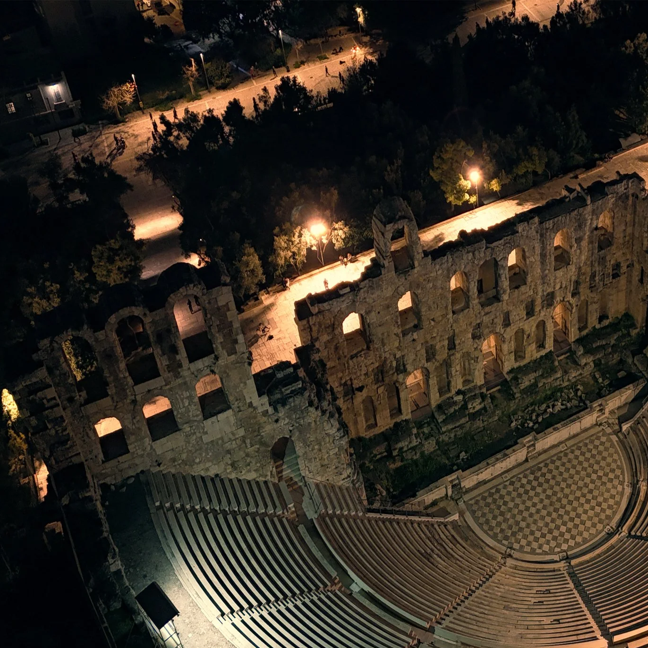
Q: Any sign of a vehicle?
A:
No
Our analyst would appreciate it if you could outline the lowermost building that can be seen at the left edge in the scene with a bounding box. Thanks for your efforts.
[0,50,83,120]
